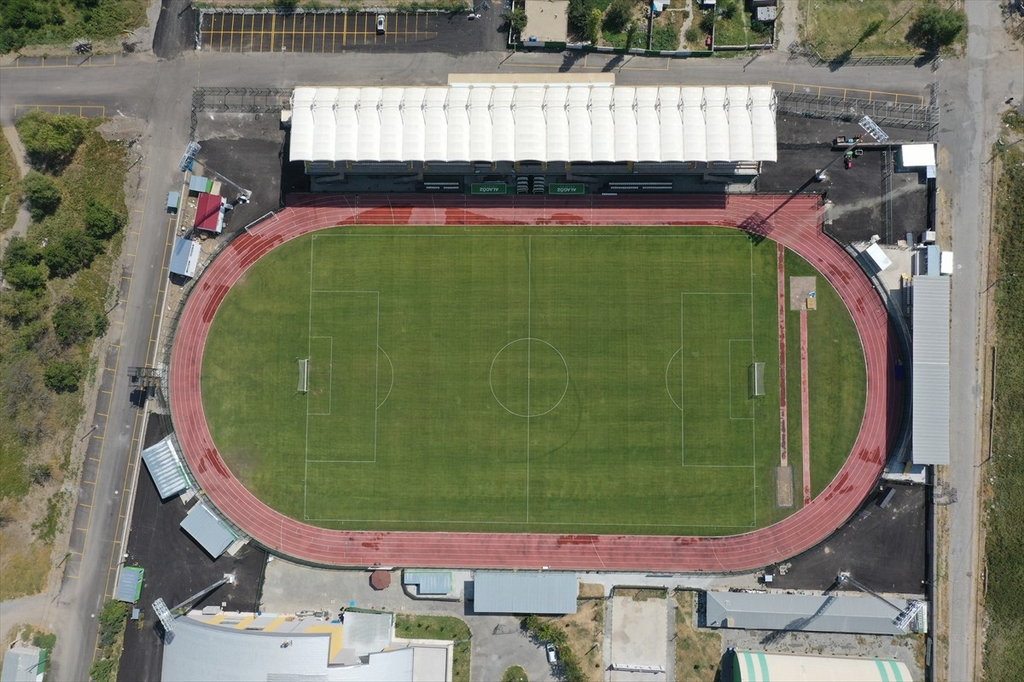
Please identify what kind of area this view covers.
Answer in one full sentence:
This image shows a sports ground.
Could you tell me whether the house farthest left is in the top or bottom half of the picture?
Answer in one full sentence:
The bottom half of the photo is where the house farthest left is.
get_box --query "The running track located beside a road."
[168,193,900,573]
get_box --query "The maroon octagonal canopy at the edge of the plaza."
[371,569,390,589]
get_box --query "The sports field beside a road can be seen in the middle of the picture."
[202,226,867,537]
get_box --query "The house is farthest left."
[3,631,51,682]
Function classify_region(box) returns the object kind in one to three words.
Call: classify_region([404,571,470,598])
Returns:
building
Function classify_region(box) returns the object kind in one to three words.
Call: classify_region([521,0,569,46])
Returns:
house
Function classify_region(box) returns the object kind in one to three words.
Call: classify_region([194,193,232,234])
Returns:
building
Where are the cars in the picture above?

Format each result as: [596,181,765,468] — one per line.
[547,646,558,665]
[376,14,385,31]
